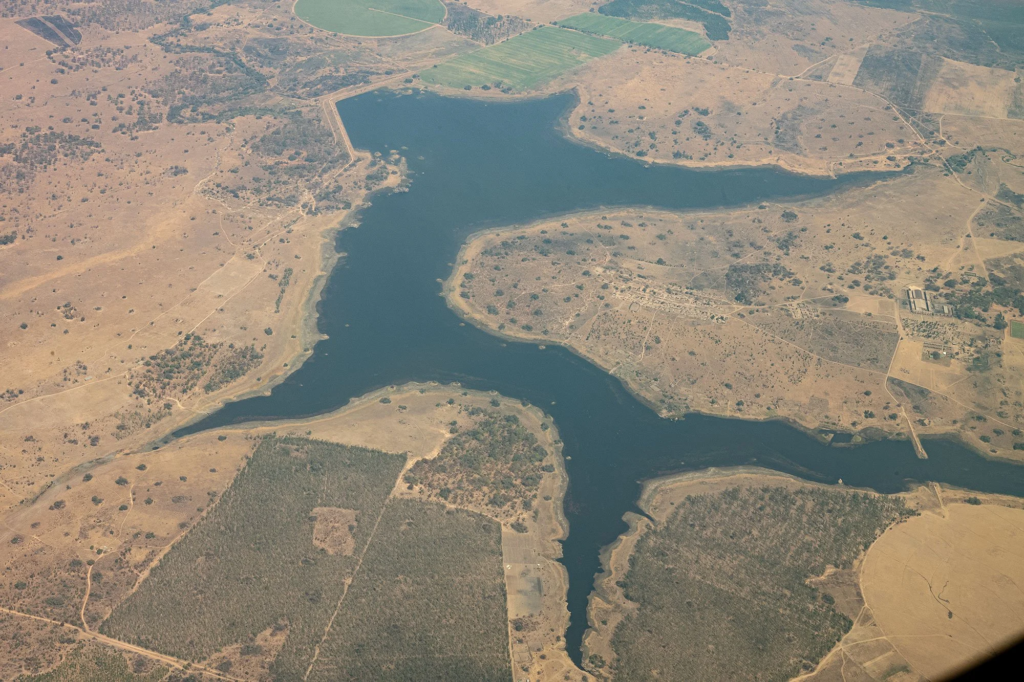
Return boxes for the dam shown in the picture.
[327,71,411,157]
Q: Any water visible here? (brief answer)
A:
Yes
